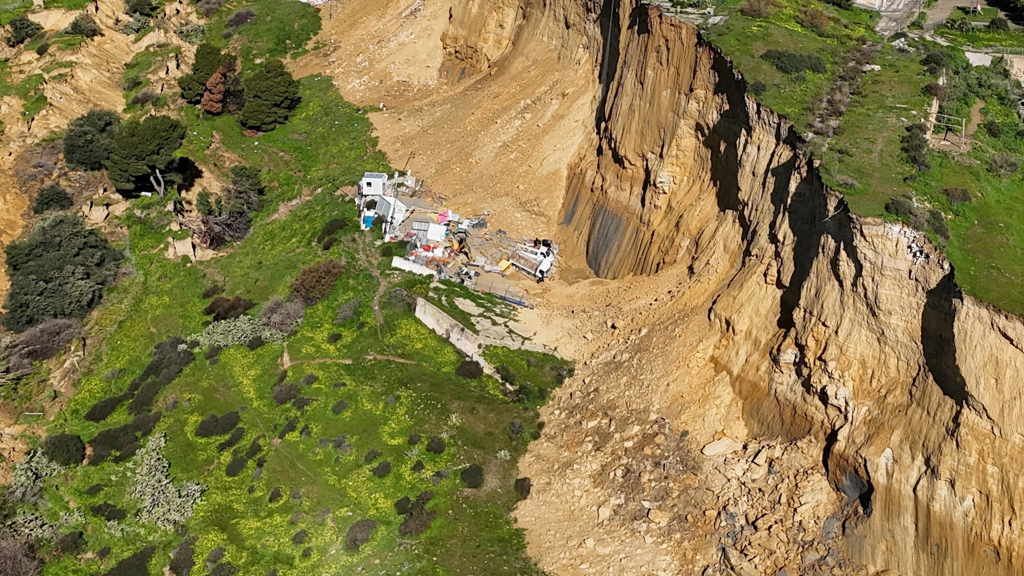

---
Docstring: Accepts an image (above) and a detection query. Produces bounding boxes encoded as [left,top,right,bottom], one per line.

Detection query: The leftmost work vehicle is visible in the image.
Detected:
[451,230,474,261]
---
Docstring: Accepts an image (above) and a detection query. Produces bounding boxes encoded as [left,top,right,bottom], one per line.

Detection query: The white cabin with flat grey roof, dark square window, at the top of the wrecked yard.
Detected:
[365,170,391,197]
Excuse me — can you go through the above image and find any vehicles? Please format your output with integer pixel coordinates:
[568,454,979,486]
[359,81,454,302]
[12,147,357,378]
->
[505,252,553,282]
[517,246,562,268]
[451,230,474,261]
